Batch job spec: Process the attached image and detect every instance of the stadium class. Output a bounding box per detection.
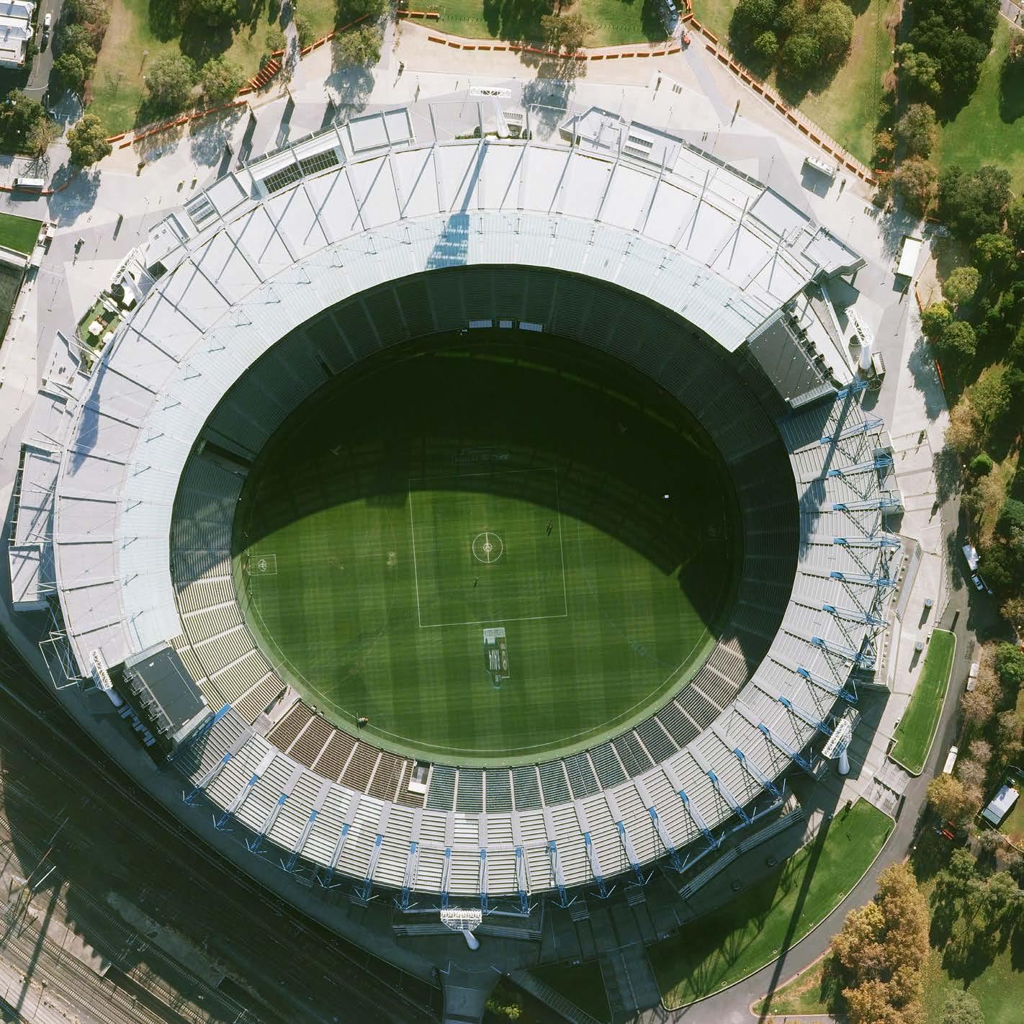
[7,97,902,914]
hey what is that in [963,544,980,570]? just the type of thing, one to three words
vehicle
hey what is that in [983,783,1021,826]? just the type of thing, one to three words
shed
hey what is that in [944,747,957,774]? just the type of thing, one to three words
vehicle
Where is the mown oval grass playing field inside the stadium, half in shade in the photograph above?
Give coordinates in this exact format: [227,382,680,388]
[231,327,743,767]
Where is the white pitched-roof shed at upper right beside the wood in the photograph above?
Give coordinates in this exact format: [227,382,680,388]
[897,237,922,278]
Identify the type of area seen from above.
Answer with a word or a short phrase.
sports ground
